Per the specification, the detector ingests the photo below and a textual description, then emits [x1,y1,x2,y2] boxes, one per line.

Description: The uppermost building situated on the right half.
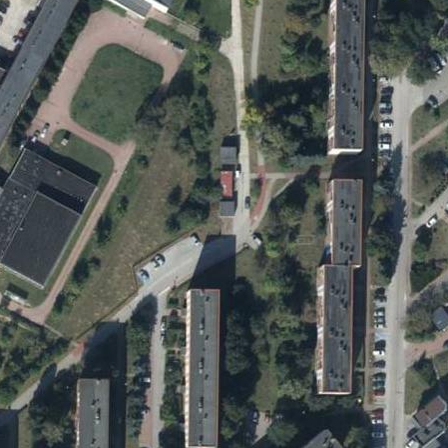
[328,0,366,155]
